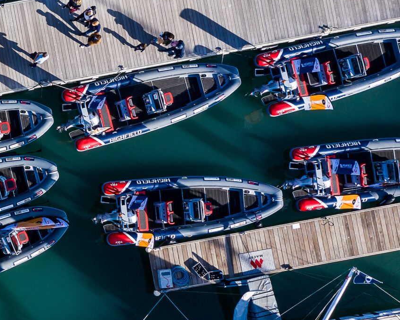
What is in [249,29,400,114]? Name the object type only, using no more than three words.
boat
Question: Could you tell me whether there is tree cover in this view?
No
